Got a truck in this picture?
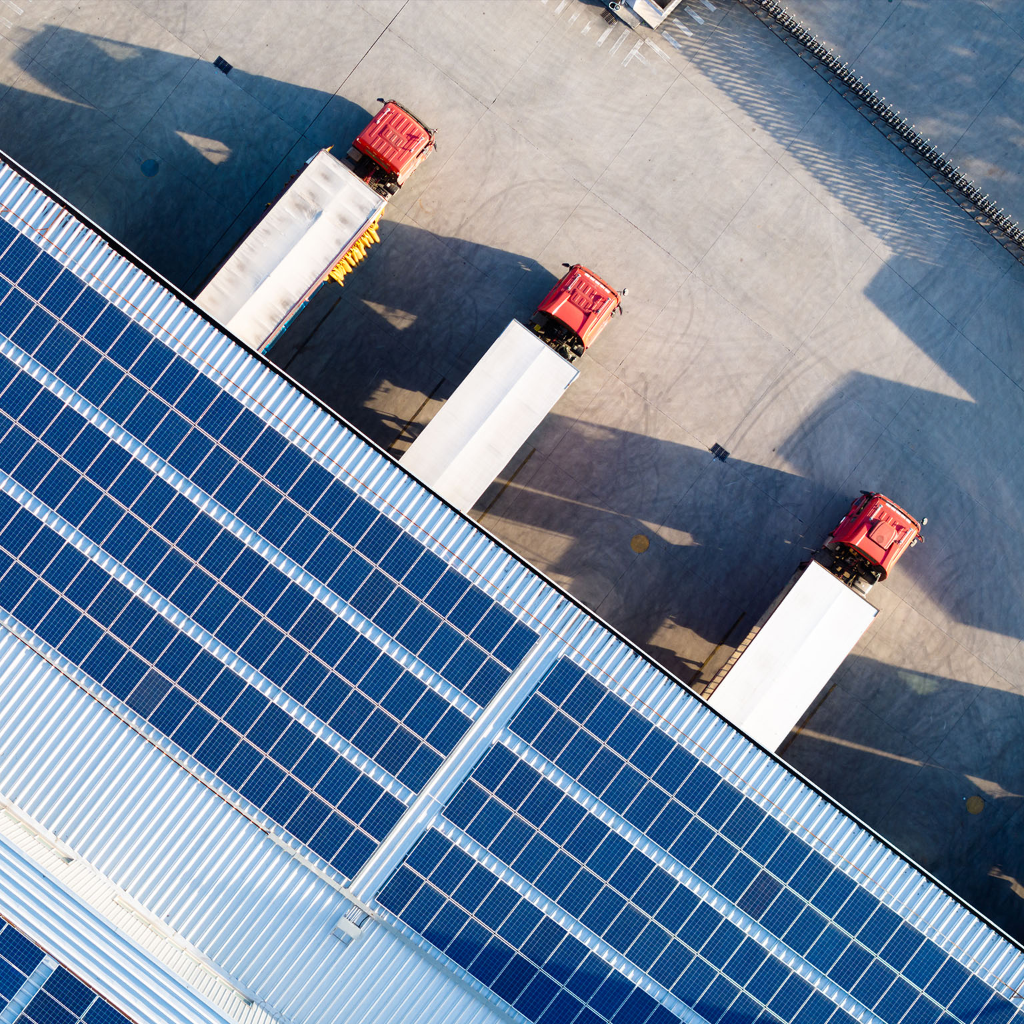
Yes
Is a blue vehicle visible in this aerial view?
No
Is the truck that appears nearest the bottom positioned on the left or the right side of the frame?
right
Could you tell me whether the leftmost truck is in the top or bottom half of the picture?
top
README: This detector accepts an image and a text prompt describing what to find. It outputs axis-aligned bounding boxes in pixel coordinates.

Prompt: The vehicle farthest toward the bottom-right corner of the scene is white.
[703,482,928,746]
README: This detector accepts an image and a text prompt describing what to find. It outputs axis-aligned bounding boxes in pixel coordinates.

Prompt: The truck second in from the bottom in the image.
[403,257,634,509]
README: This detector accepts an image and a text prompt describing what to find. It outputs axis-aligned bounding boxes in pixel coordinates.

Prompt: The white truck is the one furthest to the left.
[197,98,443,356]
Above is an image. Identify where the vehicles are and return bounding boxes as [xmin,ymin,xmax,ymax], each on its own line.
[703,482,928,746]
[403,257,634,509]
[197,98,443,356]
